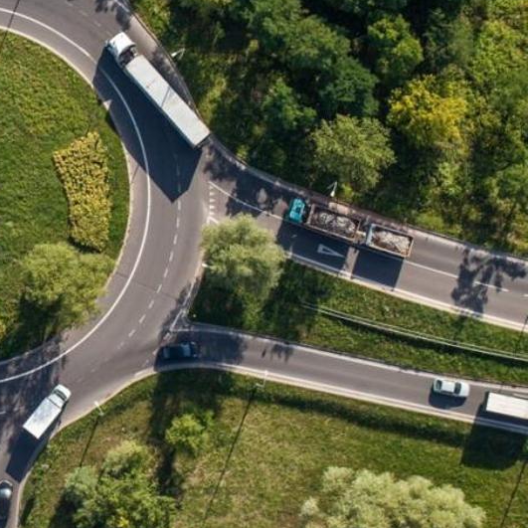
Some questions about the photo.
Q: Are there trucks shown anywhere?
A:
Yes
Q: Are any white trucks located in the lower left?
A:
Yes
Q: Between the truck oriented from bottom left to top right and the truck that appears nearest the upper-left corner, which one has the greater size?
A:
the truck that appears nearest the upper-left corner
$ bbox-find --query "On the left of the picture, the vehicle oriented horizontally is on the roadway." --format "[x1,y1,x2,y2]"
[159,344,196,360]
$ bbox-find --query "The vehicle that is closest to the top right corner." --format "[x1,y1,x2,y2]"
[289,197,414,256]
